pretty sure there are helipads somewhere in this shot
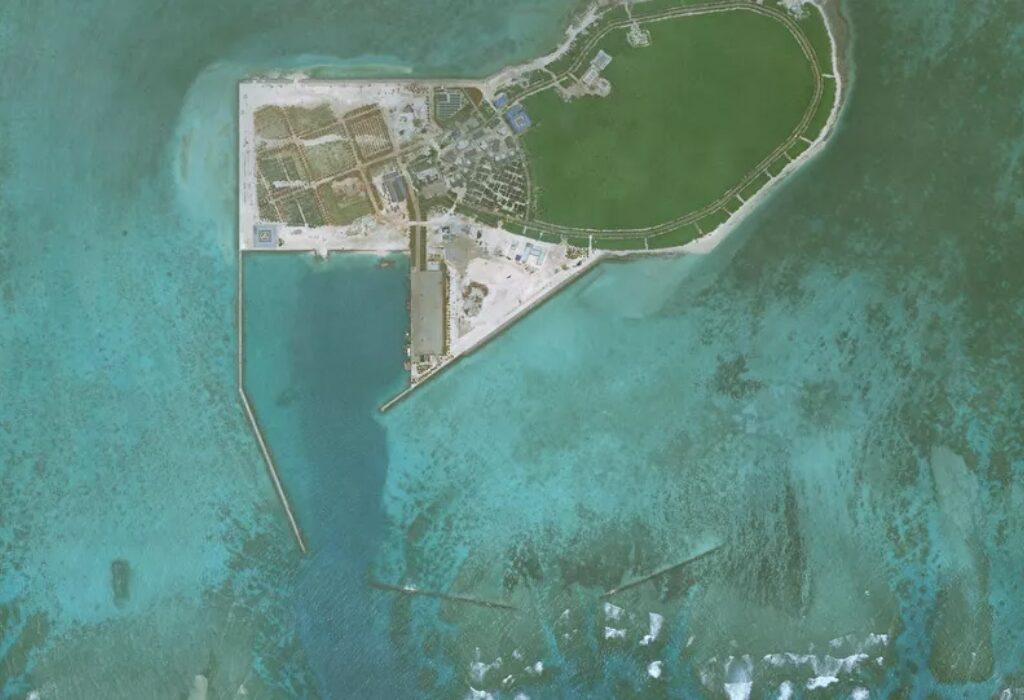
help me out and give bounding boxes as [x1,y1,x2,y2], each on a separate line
[253,224,277,247]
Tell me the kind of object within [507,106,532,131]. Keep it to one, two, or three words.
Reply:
house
